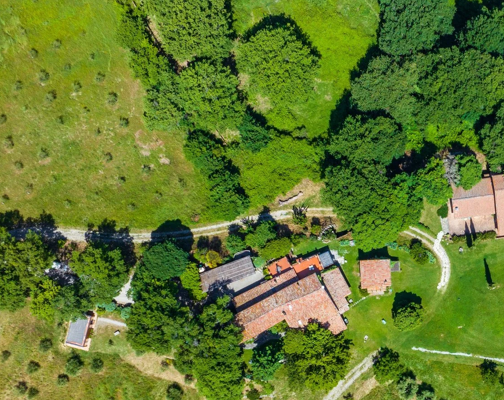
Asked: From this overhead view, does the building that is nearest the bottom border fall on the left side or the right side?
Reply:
left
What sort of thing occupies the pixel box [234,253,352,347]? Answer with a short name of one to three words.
house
